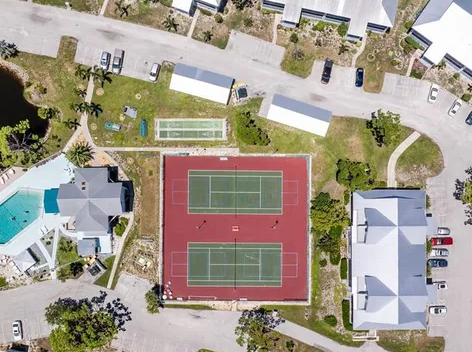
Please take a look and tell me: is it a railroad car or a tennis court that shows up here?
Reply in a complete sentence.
Of the two, only a tennis court appears.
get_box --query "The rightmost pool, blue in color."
[45,187,59,213]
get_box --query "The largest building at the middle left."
[57,168,124,236]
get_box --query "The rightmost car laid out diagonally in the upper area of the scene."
[448,98,463,117]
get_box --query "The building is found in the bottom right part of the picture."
[350,191,438,329]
